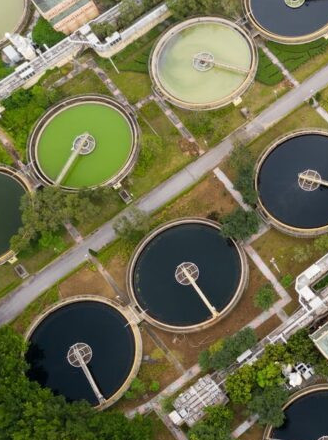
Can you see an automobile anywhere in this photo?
No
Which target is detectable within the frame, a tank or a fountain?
tank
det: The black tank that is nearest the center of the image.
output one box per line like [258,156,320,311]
[127,217,247,333]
